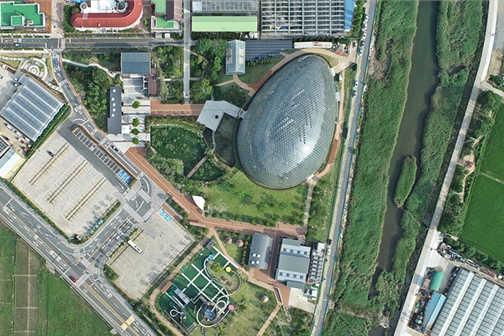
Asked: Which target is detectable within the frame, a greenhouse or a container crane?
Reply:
greenhouse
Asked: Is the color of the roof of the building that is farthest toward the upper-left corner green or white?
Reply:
green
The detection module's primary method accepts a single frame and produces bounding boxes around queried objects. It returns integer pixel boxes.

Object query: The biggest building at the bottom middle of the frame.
[275,238,310,288]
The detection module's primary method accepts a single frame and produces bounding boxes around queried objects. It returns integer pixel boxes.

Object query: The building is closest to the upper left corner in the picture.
[0,2,48,33]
